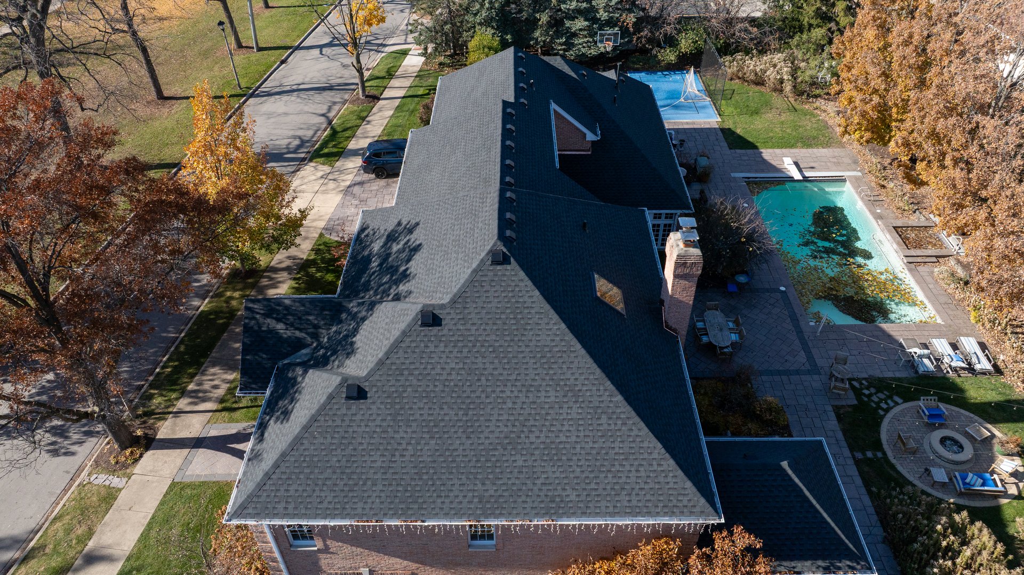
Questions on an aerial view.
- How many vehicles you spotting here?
1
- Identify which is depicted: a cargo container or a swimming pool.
swimming pool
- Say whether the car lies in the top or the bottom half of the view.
top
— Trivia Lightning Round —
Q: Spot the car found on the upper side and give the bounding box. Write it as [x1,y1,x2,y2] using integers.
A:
[360,133,408,175]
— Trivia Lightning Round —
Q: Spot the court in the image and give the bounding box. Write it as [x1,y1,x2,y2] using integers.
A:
[628,70,722,122]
